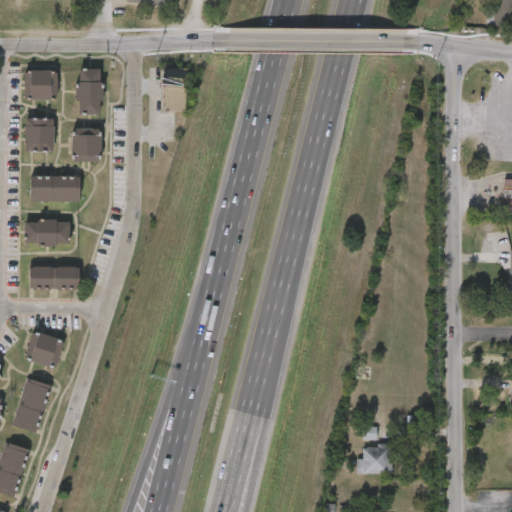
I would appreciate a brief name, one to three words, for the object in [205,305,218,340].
vehicle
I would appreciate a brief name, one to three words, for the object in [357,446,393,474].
house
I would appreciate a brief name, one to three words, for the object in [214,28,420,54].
bridge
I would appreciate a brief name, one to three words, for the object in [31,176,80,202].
building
